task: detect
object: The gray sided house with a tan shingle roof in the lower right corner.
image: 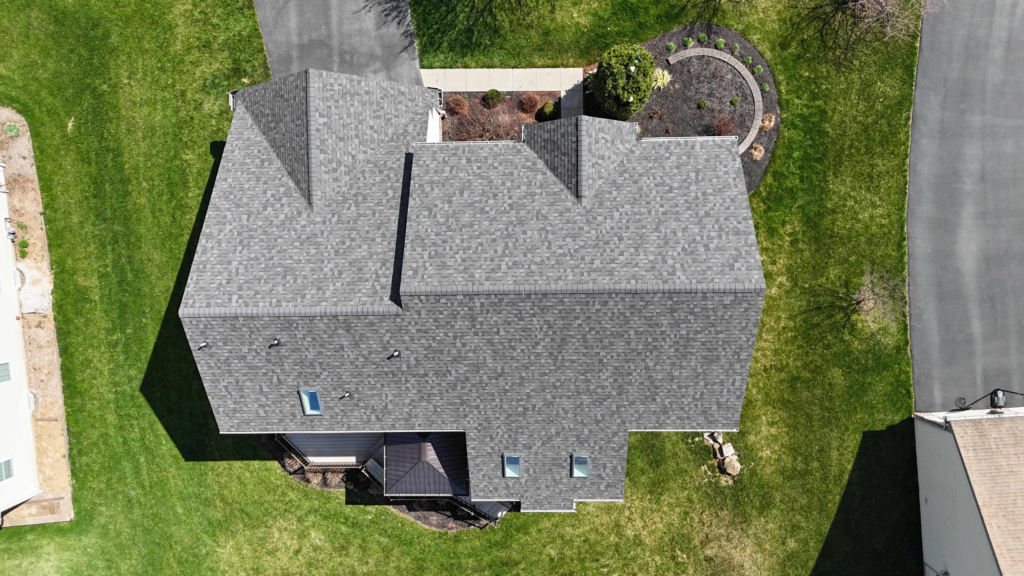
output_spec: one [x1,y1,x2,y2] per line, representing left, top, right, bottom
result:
[909,408,1024,576]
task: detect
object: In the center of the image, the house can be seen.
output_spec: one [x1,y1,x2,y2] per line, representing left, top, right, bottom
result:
[178,68,766,514]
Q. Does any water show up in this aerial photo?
No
